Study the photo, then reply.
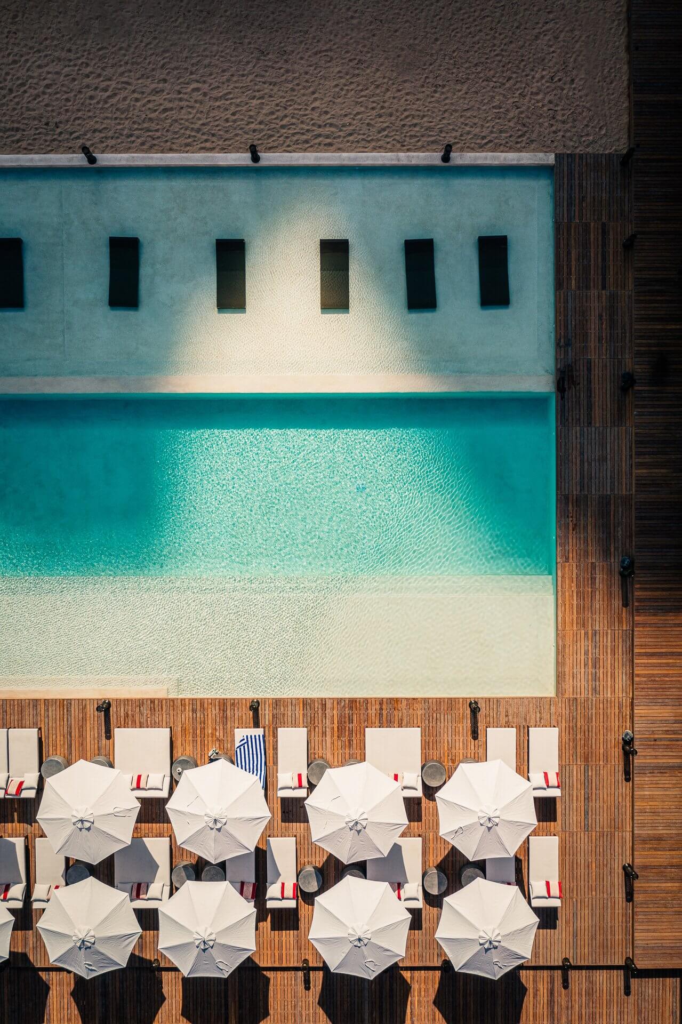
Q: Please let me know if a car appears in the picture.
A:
No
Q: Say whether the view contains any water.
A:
Yes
